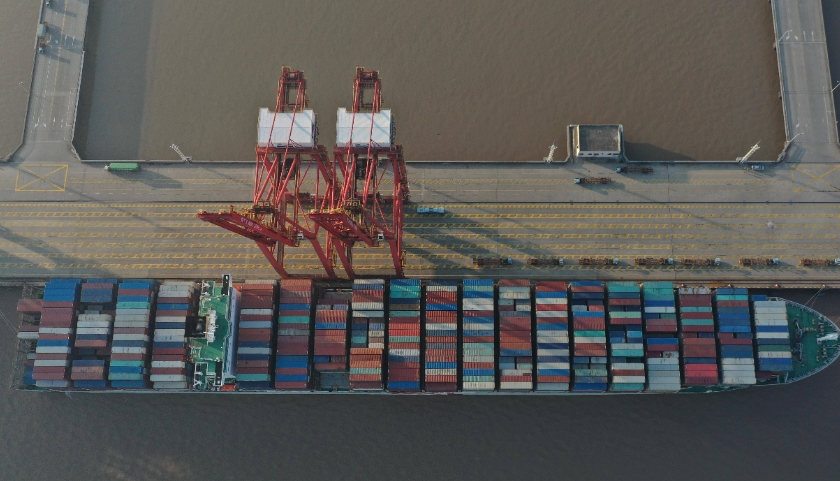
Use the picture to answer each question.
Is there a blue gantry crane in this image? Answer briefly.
No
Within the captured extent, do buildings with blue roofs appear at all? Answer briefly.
No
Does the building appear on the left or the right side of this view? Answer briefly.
right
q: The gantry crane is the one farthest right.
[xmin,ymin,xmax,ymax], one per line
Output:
[305,69,410,278]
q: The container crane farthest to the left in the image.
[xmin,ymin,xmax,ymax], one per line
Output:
[196,68,340,278]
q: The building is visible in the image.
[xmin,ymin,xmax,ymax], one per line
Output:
[561,122,631,161]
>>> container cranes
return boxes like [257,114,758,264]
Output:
[305,69,410,278]
[196,68,340,278]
